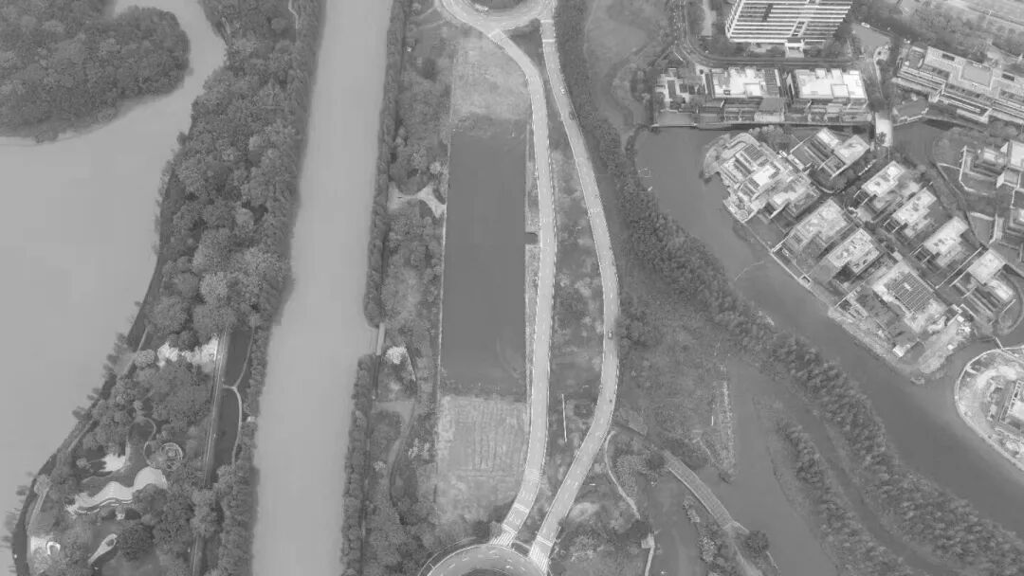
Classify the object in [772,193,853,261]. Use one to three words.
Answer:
house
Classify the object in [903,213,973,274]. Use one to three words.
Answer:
house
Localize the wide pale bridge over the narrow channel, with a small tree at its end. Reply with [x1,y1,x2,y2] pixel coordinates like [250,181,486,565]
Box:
[876,111,894,151]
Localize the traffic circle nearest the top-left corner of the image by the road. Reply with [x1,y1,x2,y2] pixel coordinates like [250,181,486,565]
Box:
[432,0,558,36]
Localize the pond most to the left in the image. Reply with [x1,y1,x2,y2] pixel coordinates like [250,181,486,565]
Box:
[441,132,537,397]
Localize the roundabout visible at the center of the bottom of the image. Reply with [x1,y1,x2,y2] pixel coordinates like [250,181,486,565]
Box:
[413,531,562,576]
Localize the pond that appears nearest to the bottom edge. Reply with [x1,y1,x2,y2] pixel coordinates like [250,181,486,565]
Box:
[690,363,828,576]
